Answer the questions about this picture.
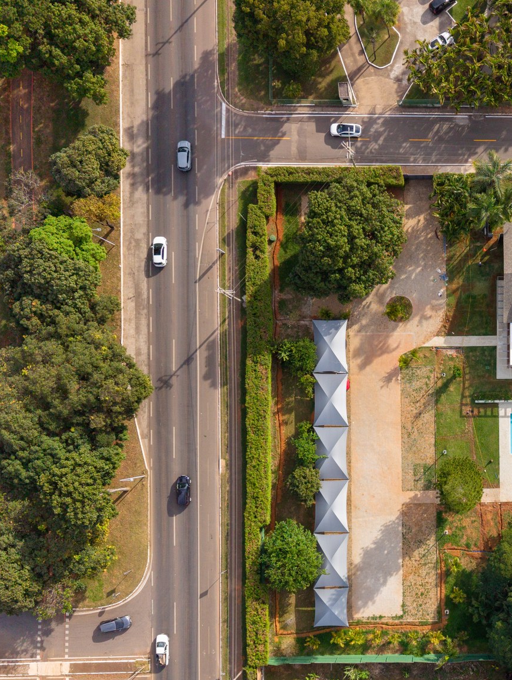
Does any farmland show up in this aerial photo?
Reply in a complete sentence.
No, farmland can't be seen anywhere here.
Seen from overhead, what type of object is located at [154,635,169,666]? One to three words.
vehicle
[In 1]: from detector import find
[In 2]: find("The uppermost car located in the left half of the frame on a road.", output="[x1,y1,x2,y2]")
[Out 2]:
[177,142,192,171]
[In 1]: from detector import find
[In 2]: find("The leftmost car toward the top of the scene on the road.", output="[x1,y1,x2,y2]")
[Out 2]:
[153,239,168,265]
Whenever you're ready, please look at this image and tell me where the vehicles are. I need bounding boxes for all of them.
[153,239,168,265]
[177,142,192,171]
[98,615,130,634]
[332,122,361,137]
[175,475,192,503]
[154,635,169,666]
[428,0,456,14]
[425,31,453,54]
